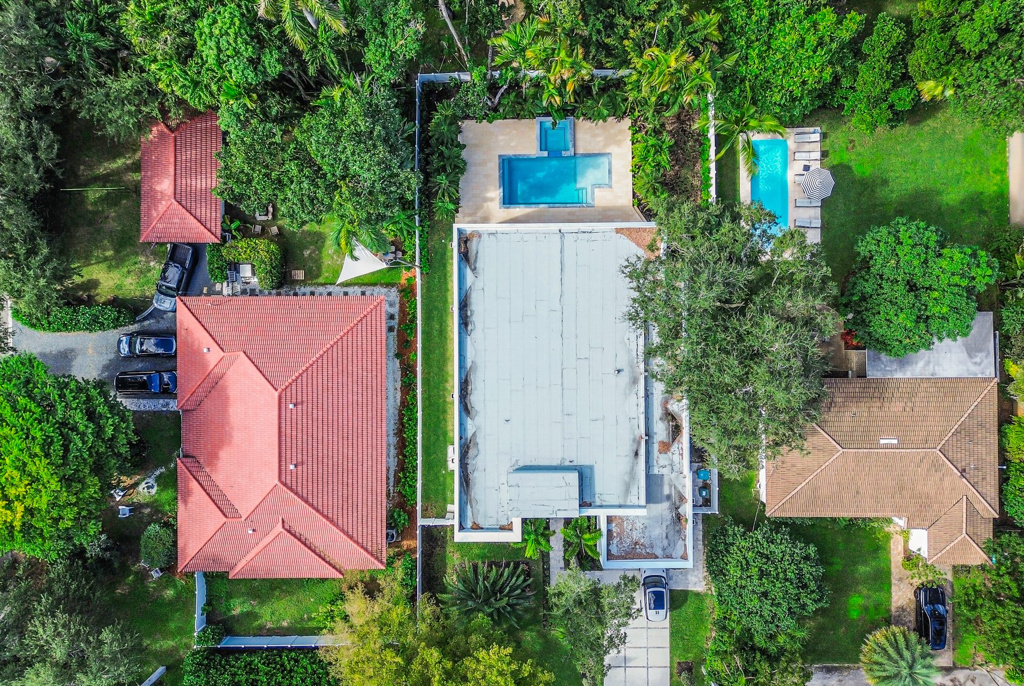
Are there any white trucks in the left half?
No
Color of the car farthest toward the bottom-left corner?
black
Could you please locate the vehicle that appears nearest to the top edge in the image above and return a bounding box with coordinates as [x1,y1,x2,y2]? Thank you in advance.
[151,242,202,315]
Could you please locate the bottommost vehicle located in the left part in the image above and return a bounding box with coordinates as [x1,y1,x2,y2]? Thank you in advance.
[113,368,176,398]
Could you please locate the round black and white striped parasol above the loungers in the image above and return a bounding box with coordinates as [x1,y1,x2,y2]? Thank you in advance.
[800,167,833,201]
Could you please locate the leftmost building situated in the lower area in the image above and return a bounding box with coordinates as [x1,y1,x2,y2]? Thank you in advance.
[174,295,386,580]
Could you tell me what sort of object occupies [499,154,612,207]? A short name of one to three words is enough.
swimming pool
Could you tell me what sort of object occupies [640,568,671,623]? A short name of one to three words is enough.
car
